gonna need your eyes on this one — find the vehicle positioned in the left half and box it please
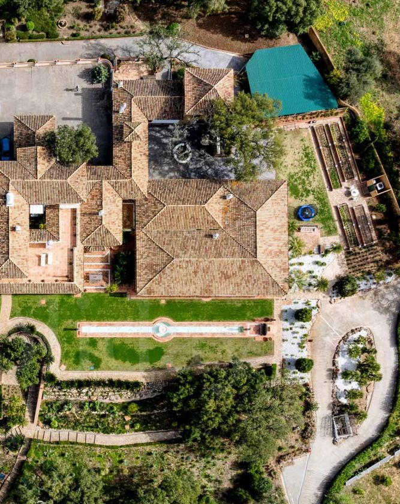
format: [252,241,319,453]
[0,135,13,161]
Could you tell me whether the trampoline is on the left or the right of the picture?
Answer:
right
